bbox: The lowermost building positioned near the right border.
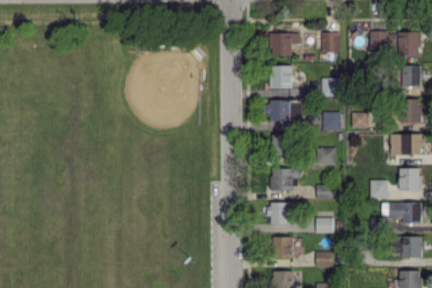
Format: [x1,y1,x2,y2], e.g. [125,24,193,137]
[400,270,422,288]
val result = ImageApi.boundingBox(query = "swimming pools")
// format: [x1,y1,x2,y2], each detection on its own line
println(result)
[353,35,366,48]
[318,236,330,250]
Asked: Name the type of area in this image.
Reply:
sports ground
